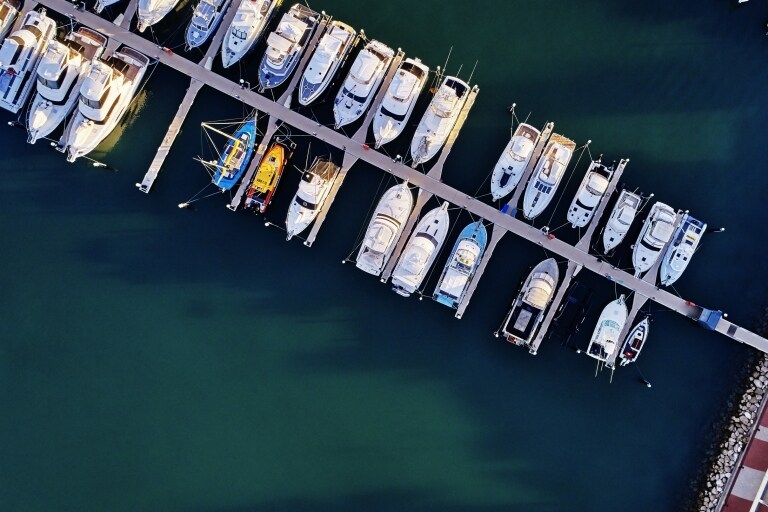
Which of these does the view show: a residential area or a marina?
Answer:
marina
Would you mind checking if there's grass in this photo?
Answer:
No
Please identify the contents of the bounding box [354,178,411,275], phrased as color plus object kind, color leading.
white boat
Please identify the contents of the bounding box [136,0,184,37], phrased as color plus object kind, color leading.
white boat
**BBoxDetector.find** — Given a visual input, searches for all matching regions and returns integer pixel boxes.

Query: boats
[69,50,155,160]
[245,143,284,211]
[433,217,486,307]
[502,259,556,345]
[195,112,258,196]
[97,0,124,15]
[413,49,478,169]
[623,202,676,277]
[30,25,110,142]
[184,0,233,52]
[388,201,447,298]
[598,187,641,253]
[300,21,358,104]
[223,0,282,68]
[286,144,340,241]
[620,318,649,365]
[334,40,394,129]
[525,133,578,218]
[258,3,322,91]
[374,58,430,149]
[585,295,625,384]
[0,10,51,115]
[490,113,542,201]
[354,178,411,275]
[659,214,707,287]
[136,0,184,37]
[568,159,614,227]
